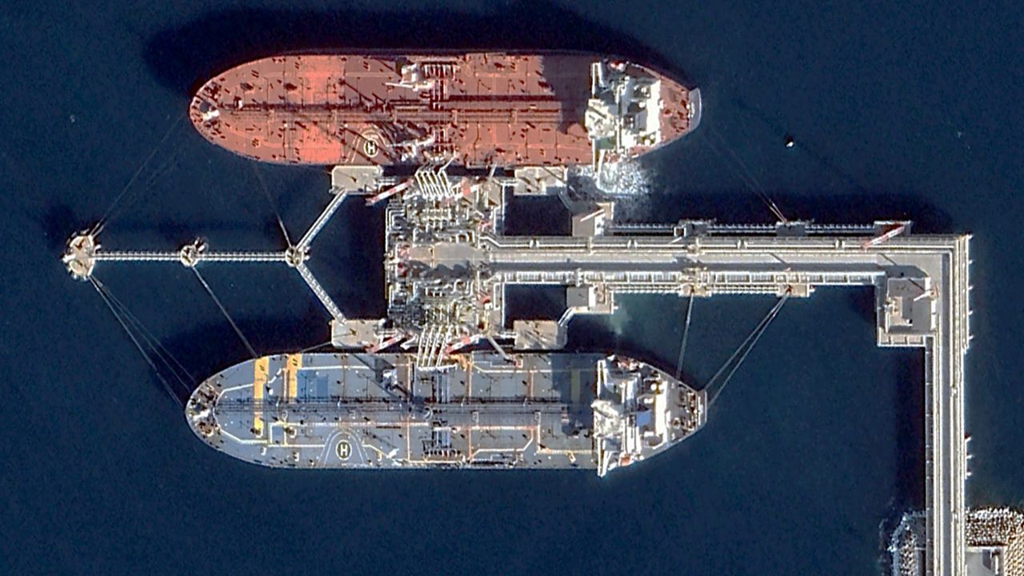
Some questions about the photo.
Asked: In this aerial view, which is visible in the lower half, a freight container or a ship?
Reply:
ship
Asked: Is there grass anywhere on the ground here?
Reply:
No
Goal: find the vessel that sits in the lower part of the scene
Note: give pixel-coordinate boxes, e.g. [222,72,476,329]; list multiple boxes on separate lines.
[185,349,708,478]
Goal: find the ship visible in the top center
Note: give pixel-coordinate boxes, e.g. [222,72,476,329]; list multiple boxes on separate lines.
[189,47,703,176]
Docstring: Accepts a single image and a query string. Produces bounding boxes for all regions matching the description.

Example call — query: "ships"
[185,349,708,478]
[189,47,703,176]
